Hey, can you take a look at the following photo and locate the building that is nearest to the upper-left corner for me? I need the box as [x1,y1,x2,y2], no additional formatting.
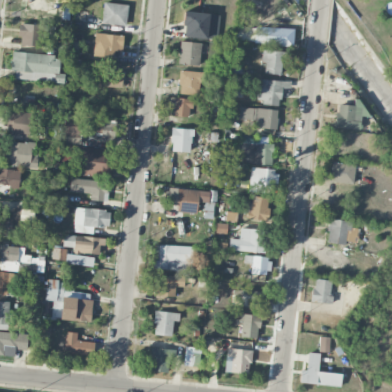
[19,22,34,46]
